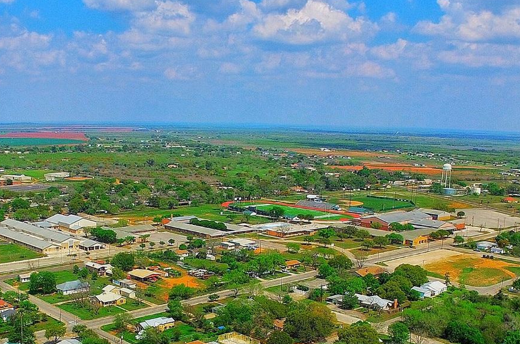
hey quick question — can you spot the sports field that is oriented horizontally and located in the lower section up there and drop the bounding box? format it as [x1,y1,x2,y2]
[225,202,349,218]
